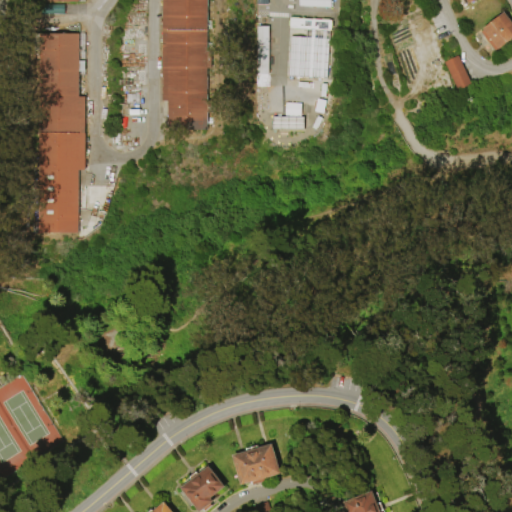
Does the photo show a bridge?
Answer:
No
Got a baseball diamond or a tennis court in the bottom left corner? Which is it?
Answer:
tennis court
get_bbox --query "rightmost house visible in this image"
[482,13,512,48]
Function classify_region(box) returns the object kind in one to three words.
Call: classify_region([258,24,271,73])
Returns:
building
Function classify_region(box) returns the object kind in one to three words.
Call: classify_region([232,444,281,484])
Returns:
house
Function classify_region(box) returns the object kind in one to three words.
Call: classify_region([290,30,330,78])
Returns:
greenhouse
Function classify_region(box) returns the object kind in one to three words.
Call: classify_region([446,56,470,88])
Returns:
barn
